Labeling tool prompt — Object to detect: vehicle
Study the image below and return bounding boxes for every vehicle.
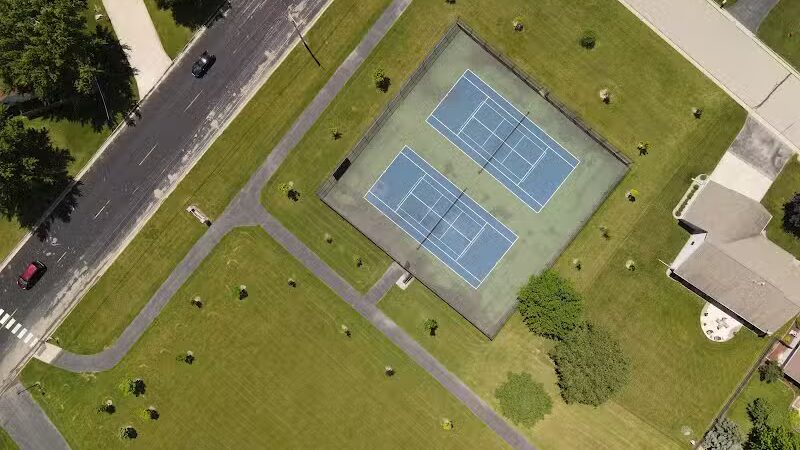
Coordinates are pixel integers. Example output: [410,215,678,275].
[192,49,217,77]
[19,259,45,287]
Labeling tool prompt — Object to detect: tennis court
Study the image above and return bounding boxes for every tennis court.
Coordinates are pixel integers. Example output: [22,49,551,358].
[363,145,518,289]
[426,69,580,213]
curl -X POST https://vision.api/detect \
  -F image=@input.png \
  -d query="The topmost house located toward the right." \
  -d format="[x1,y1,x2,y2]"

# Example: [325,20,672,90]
[666,178,800,334]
